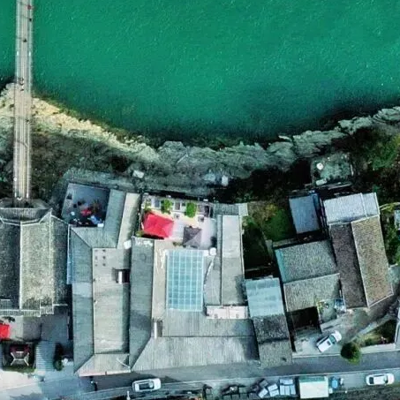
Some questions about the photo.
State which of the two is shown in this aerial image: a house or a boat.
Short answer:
house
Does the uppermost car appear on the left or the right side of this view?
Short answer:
right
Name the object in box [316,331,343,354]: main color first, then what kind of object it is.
white car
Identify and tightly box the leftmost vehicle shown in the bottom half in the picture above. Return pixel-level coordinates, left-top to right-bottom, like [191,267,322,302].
[133,378,161,393]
